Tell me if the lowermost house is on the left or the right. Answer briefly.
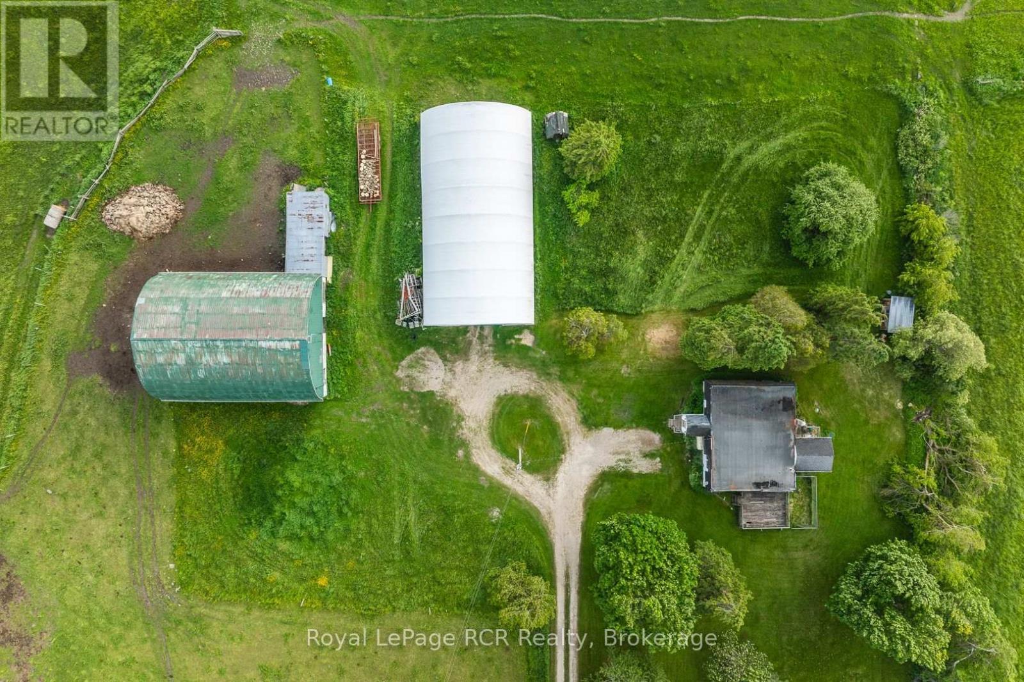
right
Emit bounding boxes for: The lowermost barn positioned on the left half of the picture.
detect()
[130,272,328,403]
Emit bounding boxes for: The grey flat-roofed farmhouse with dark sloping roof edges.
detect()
[667,381,835,531]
